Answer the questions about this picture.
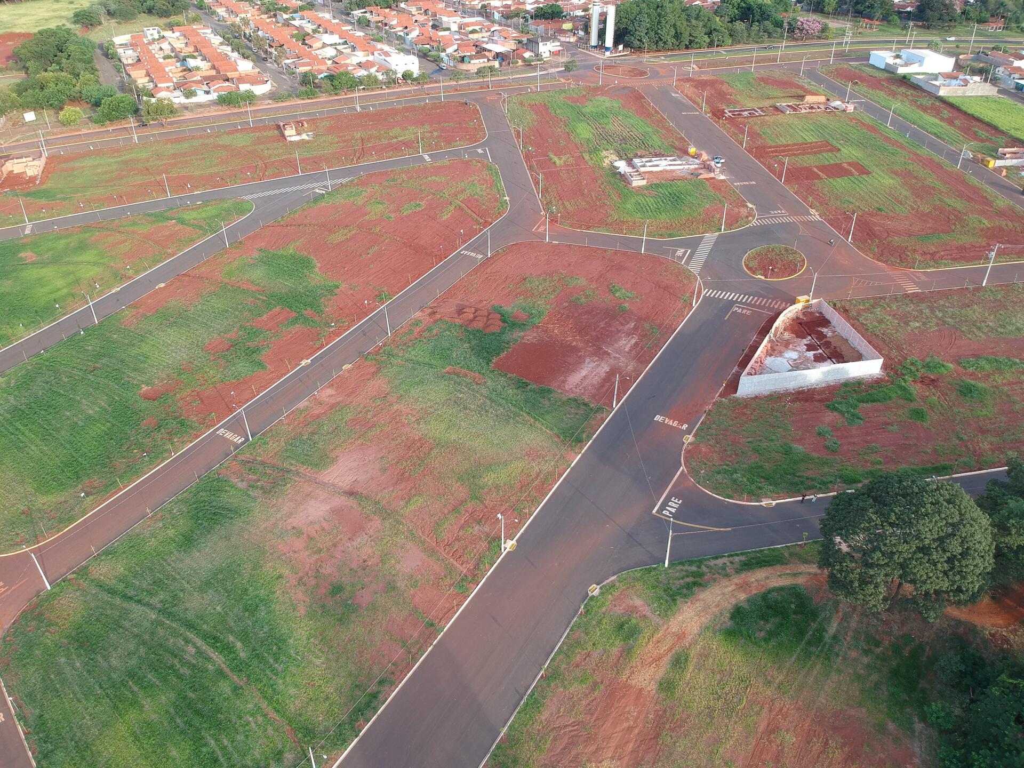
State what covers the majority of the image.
paved ground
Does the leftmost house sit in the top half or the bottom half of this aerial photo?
top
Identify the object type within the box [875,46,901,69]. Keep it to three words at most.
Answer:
building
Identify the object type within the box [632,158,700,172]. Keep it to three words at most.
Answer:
house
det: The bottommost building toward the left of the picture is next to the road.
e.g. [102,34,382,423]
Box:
[1,157,44,185]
